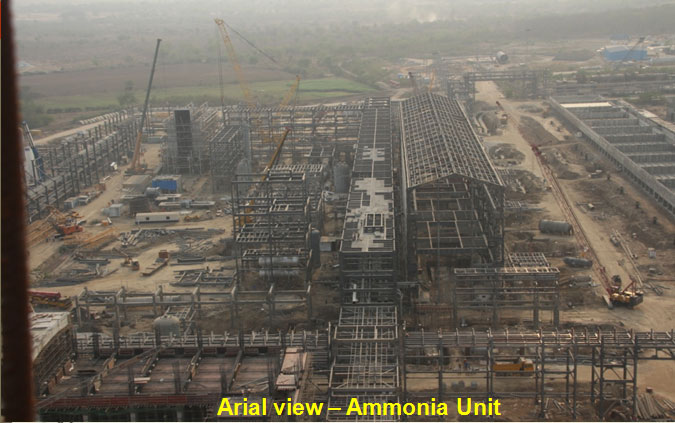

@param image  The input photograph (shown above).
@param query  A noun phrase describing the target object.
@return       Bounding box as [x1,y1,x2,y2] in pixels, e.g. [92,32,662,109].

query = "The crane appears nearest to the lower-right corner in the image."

[532,141,648,304]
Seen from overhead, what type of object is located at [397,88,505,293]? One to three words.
shed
